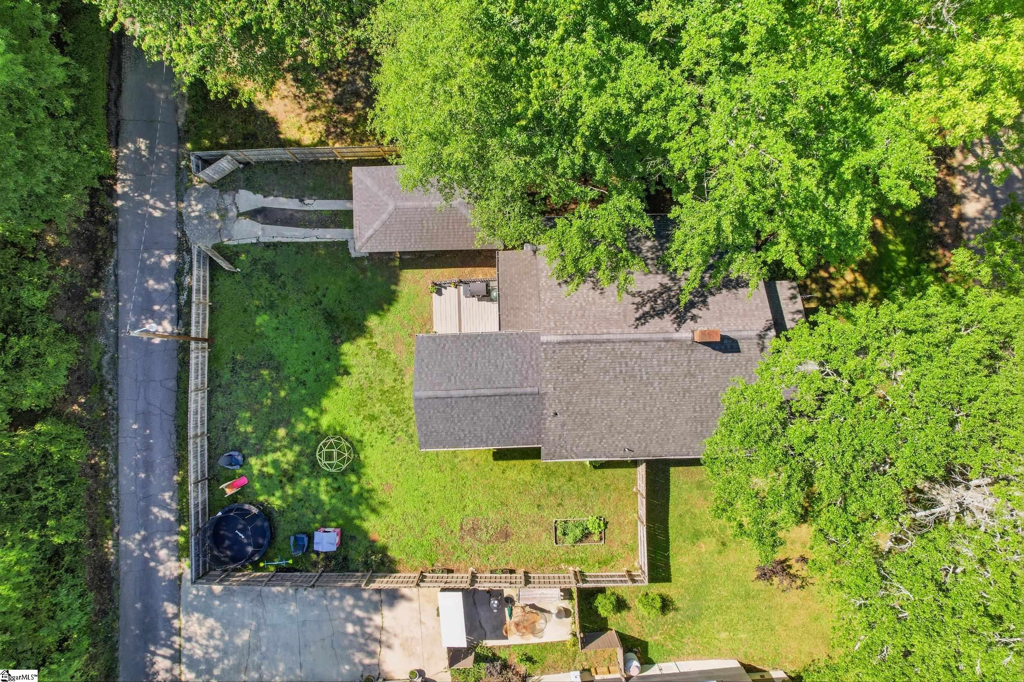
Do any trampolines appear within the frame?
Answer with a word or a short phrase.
Yes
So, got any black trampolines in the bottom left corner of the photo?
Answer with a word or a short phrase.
Yes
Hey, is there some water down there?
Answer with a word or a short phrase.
No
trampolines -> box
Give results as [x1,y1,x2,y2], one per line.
[202,501,273,571]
